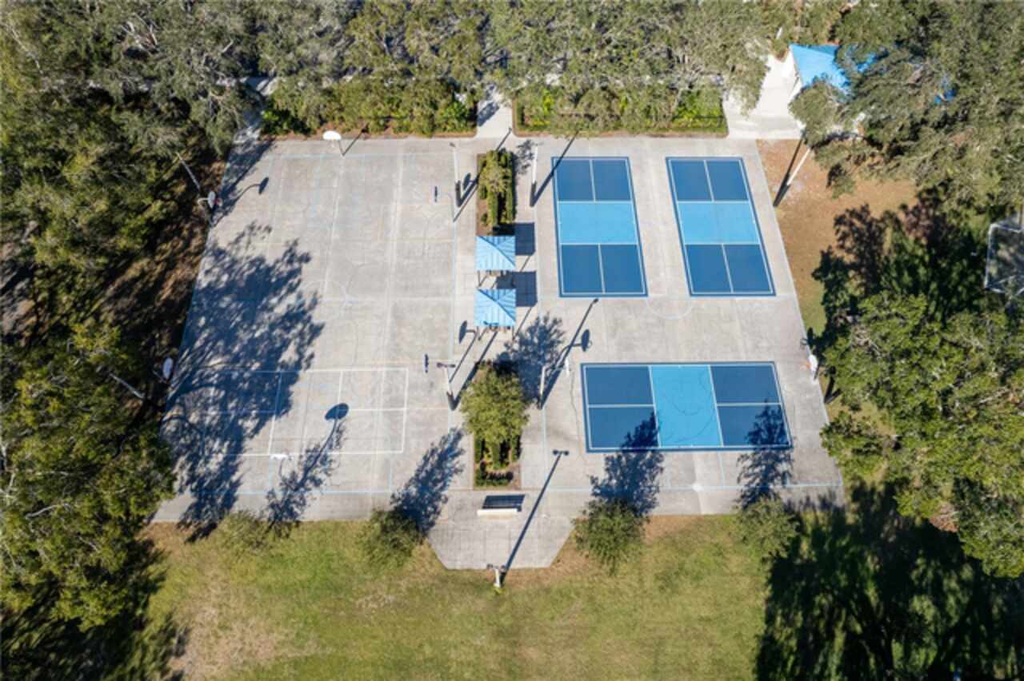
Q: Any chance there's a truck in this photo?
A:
No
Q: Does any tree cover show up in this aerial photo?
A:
Yes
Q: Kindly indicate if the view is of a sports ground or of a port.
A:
sports ground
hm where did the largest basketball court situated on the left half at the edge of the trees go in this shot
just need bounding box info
[150,138,458,497]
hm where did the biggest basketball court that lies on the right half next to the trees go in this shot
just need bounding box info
[530,138,839,492]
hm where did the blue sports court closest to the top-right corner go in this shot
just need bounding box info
[666,156,776,296]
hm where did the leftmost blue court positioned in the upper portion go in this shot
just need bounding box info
[551,156,648,296]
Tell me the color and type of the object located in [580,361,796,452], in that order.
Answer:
blue sports court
